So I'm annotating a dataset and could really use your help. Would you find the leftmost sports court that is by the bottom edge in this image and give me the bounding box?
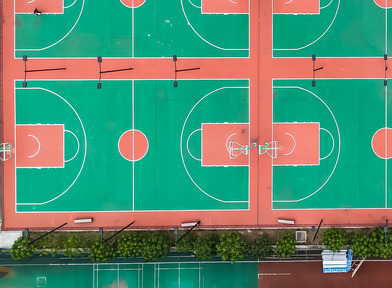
[94,265,143,288]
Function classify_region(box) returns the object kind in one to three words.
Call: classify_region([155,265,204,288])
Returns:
sports court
